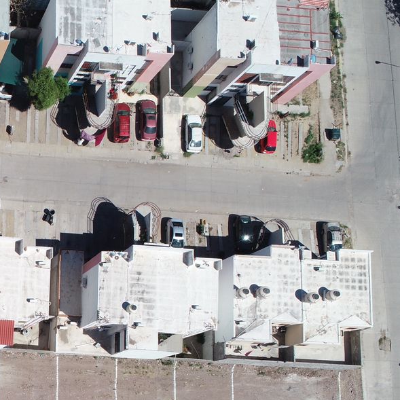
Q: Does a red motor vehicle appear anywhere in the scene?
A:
Yes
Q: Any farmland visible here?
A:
No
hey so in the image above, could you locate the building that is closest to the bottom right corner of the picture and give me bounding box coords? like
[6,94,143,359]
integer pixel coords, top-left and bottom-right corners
[201,213,376,352]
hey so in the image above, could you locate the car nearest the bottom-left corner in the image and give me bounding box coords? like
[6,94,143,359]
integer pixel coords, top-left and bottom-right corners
[167,213,187,249]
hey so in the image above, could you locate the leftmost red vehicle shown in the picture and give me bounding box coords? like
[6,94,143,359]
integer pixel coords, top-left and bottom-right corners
[111,104,132,143]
